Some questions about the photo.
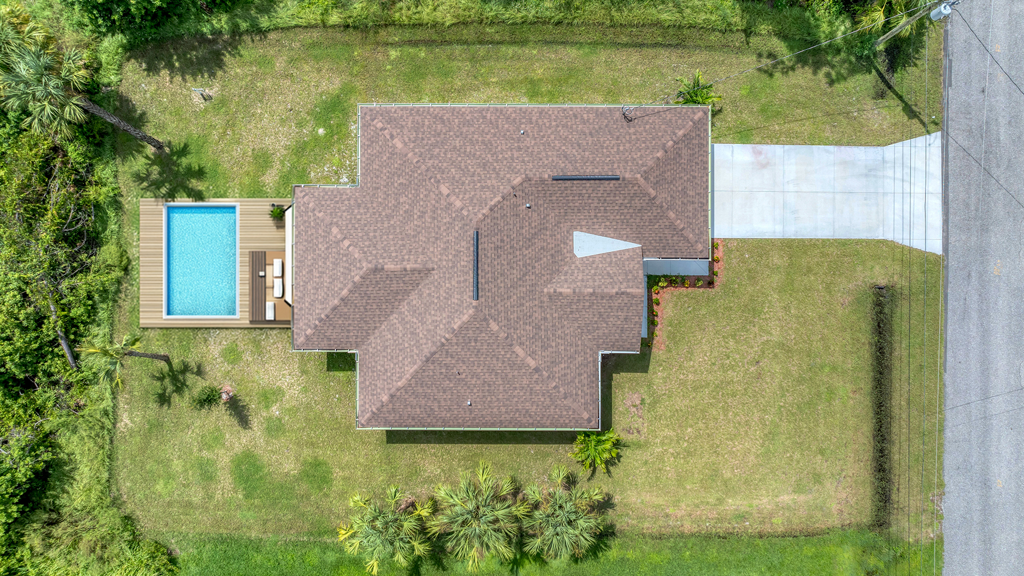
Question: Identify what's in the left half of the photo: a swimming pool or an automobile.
swimming pool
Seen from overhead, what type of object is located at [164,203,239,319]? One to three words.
swimming pool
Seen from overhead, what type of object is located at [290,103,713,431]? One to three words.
house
